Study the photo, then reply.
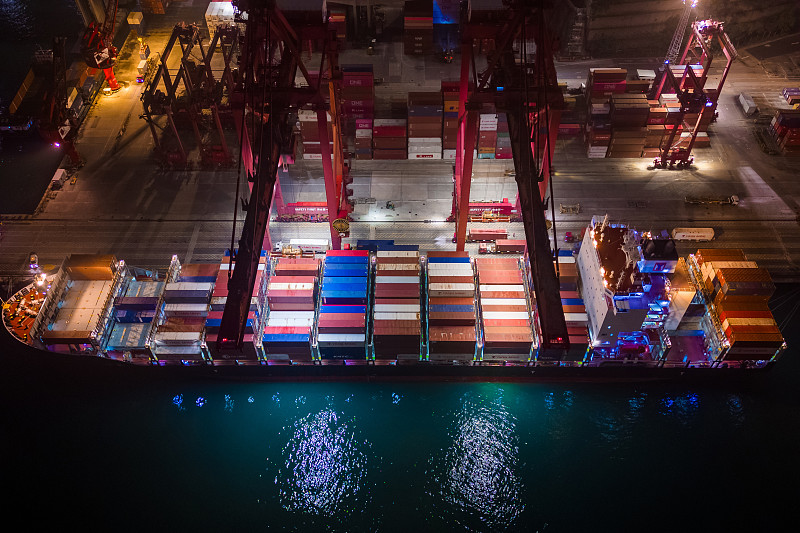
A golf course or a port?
port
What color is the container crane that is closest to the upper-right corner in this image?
red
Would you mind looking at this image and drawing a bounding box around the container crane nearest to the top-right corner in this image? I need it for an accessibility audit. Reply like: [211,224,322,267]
[680,18,741,110]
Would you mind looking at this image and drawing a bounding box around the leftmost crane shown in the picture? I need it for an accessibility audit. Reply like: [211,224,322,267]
[48,32,102,170]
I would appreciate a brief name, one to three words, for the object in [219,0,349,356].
container crane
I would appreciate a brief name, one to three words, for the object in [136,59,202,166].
container crane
